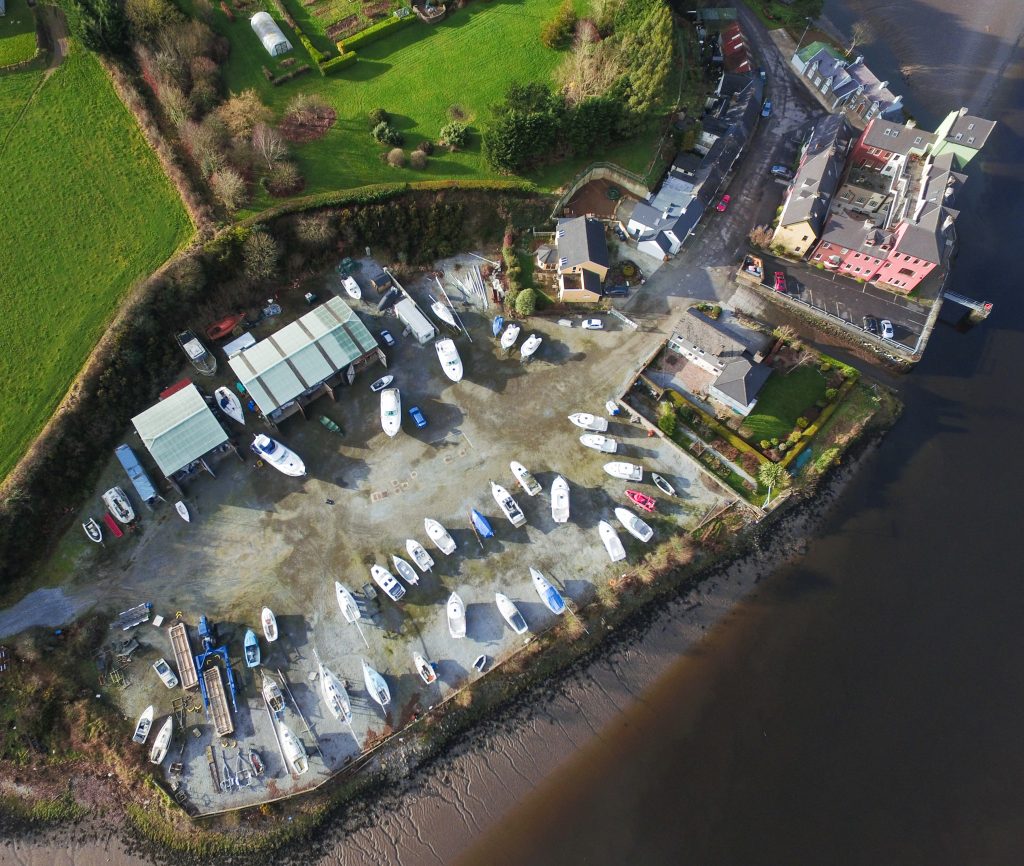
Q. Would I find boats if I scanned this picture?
Yes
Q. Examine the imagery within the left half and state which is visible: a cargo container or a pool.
cargo container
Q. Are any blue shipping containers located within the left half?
Yes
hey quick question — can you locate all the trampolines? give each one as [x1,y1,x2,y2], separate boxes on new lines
[604,185,622,202]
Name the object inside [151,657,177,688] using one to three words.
boat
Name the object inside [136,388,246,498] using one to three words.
shed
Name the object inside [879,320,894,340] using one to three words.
car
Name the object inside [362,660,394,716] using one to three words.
boat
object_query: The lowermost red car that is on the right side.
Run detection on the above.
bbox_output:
[773,271,785,291]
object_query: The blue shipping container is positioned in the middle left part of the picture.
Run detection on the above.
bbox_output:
[116,444,161,510]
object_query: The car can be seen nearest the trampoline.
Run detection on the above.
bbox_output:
[612,224,628,242]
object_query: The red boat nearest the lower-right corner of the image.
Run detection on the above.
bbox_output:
[625,489,657,512]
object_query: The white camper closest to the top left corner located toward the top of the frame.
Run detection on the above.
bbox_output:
[396,298,436,346]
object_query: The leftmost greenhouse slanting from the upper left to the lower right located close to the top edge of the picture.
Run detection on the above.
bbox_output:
[249,4,291,52]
